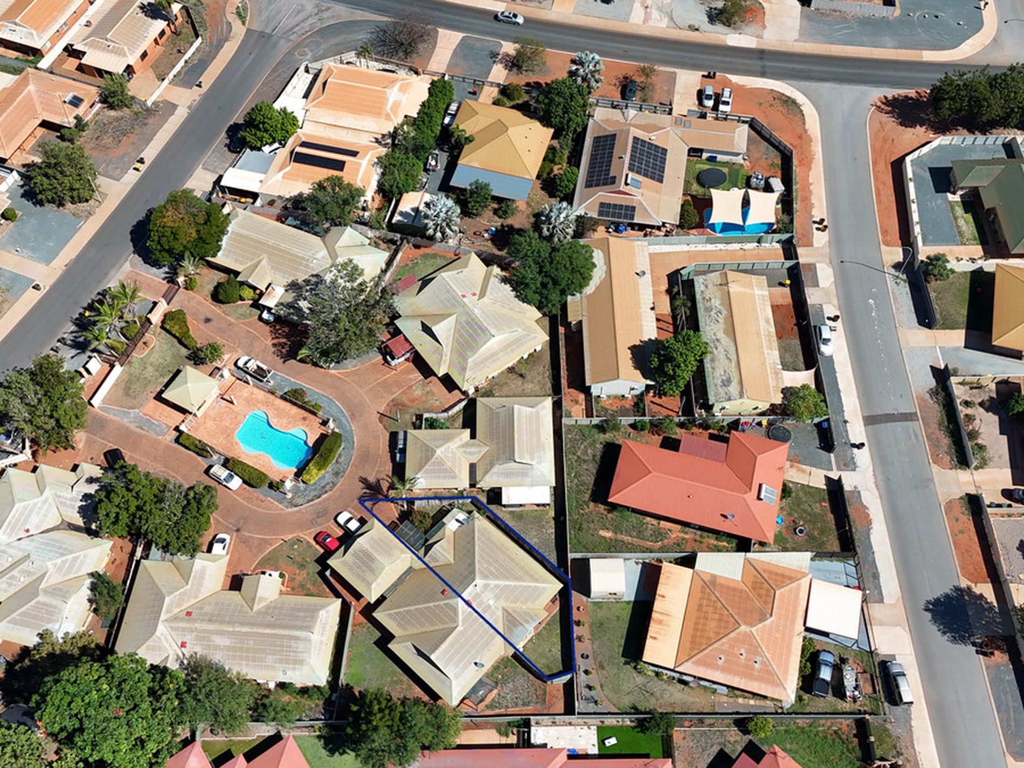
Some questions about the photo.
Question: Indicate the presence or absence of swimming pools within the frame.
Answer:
Yes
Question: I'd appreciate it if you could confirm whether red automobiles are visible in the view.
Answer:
Yes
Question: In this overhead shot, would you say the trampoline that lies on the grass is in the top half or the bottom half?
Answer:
top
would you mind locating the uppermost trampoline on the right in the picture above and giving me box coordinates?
[699,166,727,187]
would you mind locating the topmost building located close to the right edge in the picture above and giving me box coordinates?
[949,159,1024,261]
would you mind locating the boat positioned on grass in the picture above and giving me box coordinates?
[845,658,864,707]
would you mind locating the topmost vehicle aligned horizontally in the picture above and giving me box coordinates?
[495,11,524,27]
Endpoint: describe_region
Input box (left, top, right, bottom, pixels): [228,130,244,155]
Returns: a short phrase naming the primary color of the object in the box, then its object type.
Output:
black car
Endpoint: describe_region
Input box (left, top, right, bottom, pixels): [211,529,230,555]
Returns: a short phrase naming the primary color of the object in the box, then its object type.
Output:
white car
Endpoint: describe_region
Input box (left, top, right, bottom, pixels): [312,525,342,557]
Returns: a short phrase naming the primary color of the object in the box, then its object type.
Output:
red car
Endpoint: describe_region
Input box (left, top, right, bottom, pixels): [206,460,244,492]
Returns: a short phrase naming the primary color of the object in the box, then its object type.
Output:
white car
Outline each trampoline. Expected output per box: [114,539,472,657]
[699,166,727,187]
[767,423,792,443]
